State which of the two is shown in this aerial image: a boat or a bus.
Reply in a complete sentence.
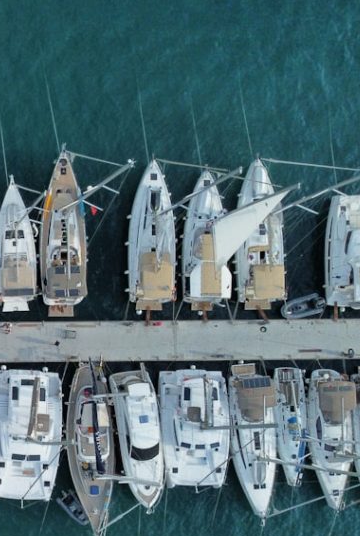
Of the two, only a boat appears.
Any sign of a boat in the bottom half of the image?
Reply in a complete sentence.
Yes, a boat is visible in the bottom half of the image.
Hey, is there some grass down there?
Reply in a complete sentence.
No, there's no grass in this view.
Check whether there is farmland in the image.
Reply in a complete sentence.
No, the picture contains no farmland.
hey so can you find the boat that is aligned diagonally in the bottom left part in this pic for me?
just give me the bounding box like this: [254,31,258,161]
[58,490,89,524]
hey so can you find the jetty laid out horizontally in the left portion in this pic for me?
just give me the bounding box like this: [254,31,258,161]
[0,319,178,363]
